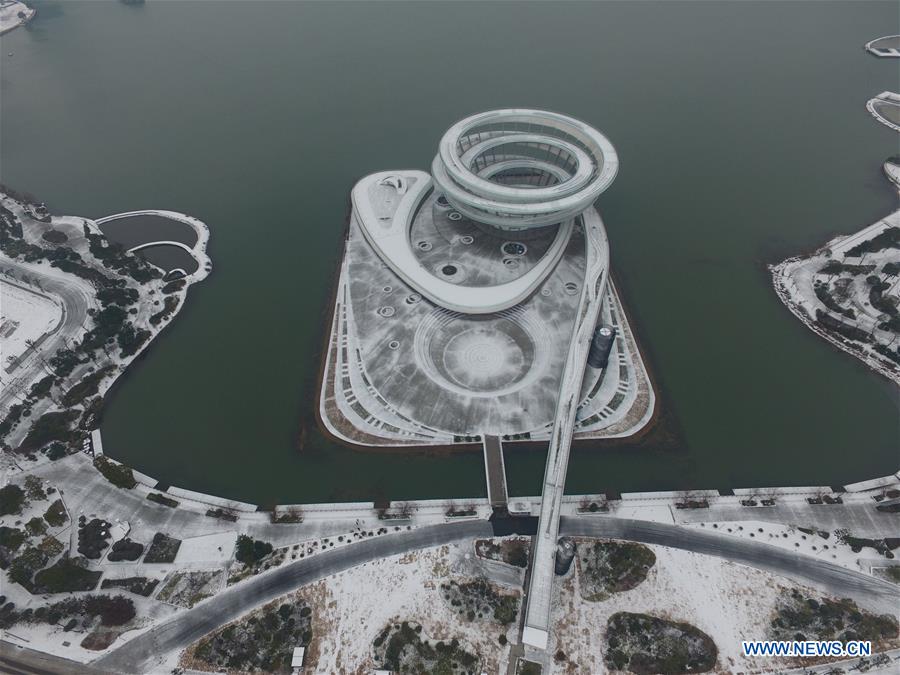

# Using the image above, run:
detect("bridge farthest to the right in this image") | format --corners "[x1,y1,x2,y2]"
[522,149,609,653]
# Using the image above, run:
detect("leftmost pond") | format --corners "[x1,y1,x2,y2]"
[99,217,199,280]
